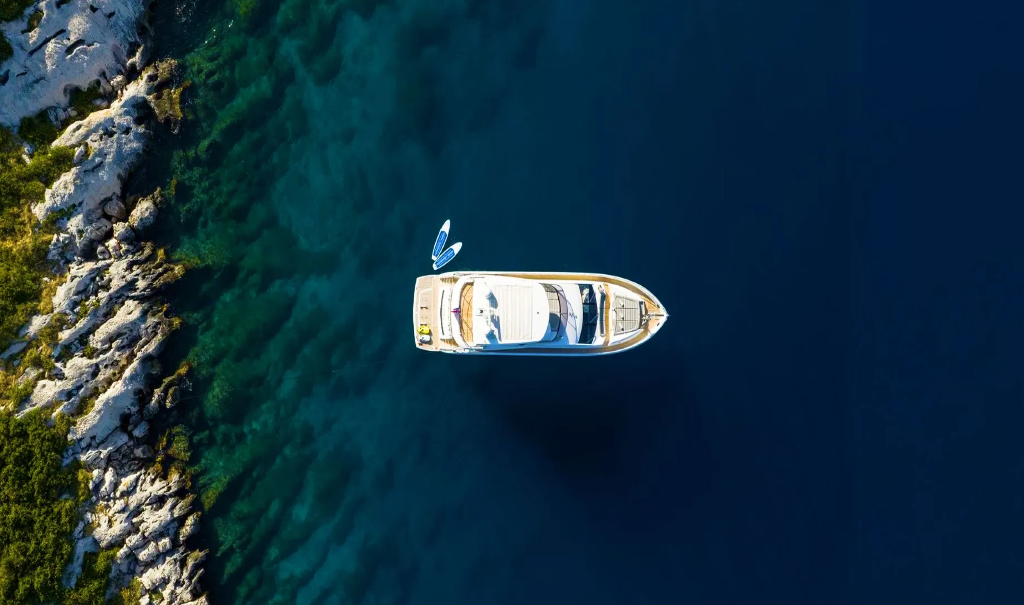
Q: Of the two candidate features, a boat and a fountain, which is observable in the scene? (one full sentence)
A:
It is a boat that can be seen here.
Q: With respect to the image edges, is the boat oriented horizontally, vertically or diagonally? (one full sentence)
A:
The boat is oriented horizontally.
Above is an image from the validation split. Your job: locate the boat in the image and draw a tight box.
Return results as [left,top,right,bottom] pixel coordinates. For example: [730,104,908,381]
[413,271,671,357]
